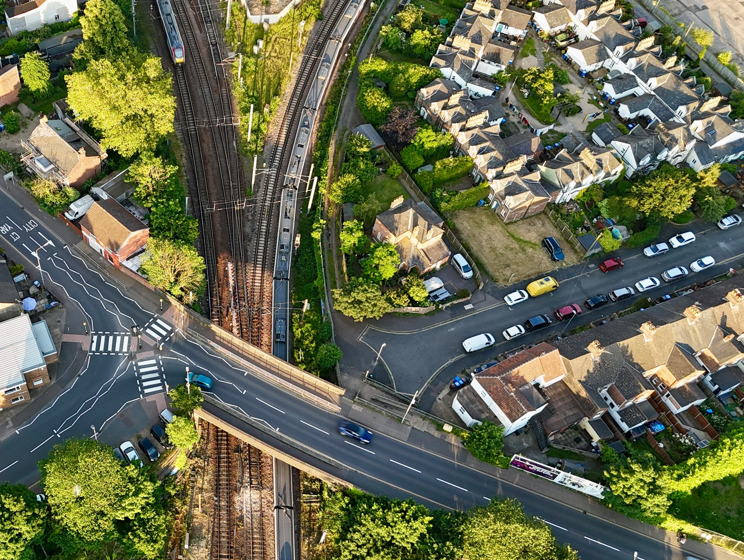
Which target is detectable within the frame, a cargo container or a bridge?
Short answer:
bridge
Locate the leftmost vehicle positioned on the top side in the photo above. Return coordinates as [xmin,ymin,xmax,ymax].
[65,194,94,221]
